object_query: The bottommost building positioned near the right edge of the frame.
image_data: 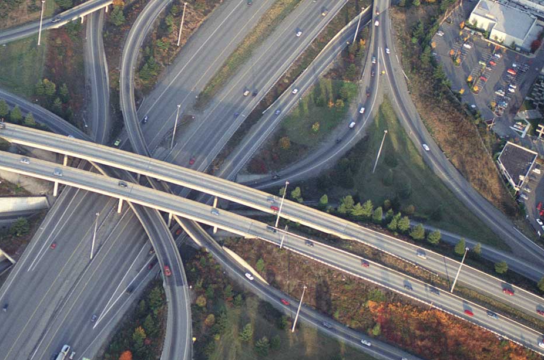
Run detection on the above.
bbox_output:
[497,142,537,193]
